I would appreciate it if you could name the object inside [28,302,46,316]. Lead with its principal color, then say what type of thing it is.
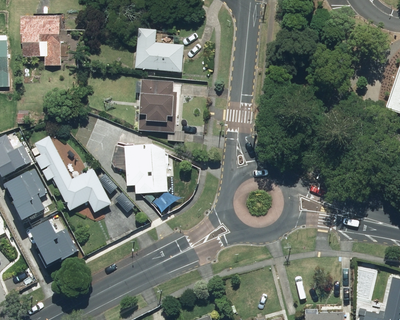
white car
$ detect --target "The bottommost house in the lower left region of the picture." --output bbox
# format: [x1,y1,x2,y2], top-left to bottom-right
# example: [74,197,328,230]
[27,222,78,266]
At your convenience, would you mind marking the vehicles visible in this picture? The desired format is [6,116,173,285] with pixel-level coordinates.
[104,263,119,274]
[13,272,29,284]
[246,142,257,158]
[21,276,36,288]
[188,44,202,58]
[296,276,306,300]
[184,126,198,134]
[308,185,322,196]
[310,288,320,304]
[183,33,199,45]
[28,302,46,316]
[258,294,268,310]
[344,220,362,228]
[343,288,351,304]
[342,270,350,286]
[334,282,342,298]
